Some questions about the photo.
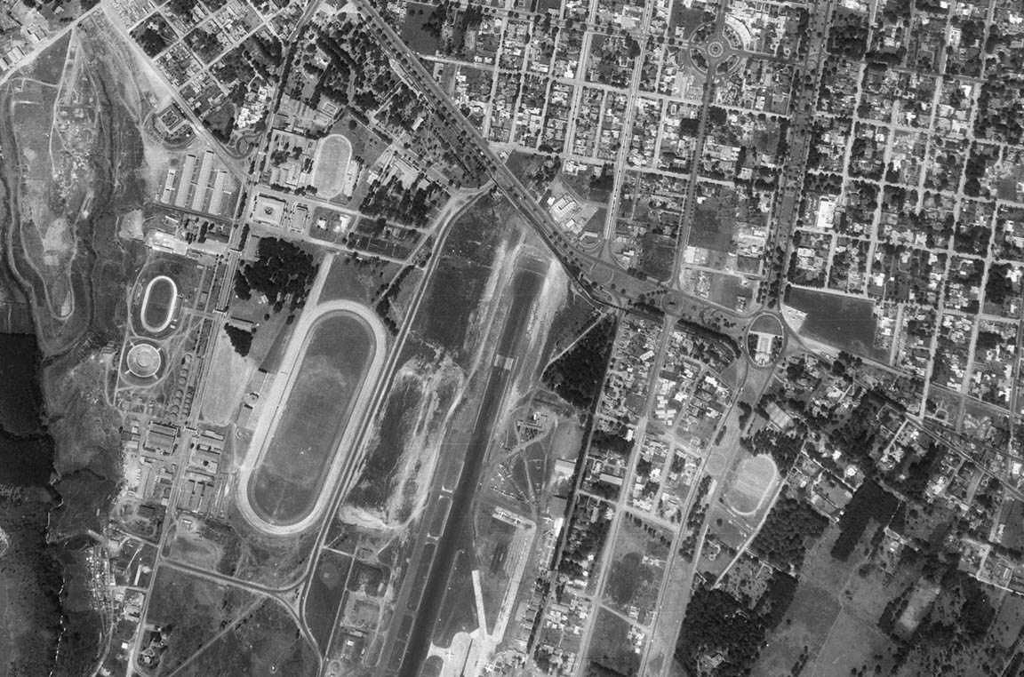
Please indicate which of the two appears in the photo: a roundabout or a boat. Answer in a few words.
roundabout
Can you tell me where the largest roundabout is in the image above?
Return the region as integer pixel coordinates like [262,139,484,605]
[689,23,743,75]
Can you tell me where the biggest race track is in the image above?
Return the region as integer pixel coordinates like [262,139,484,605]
[239,254,387,535]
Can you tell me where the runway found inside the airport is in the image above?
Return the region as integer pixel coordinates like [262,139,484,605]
[400,264,540,677]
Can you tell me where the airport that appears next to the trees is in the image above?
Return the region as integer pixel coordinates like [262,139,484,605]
[375,264,544,677]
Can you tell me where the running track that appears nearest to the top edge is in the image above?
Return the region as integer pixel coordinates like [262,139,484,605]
[312,135,354,198]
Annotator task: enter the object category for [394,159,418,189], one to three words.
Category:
building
